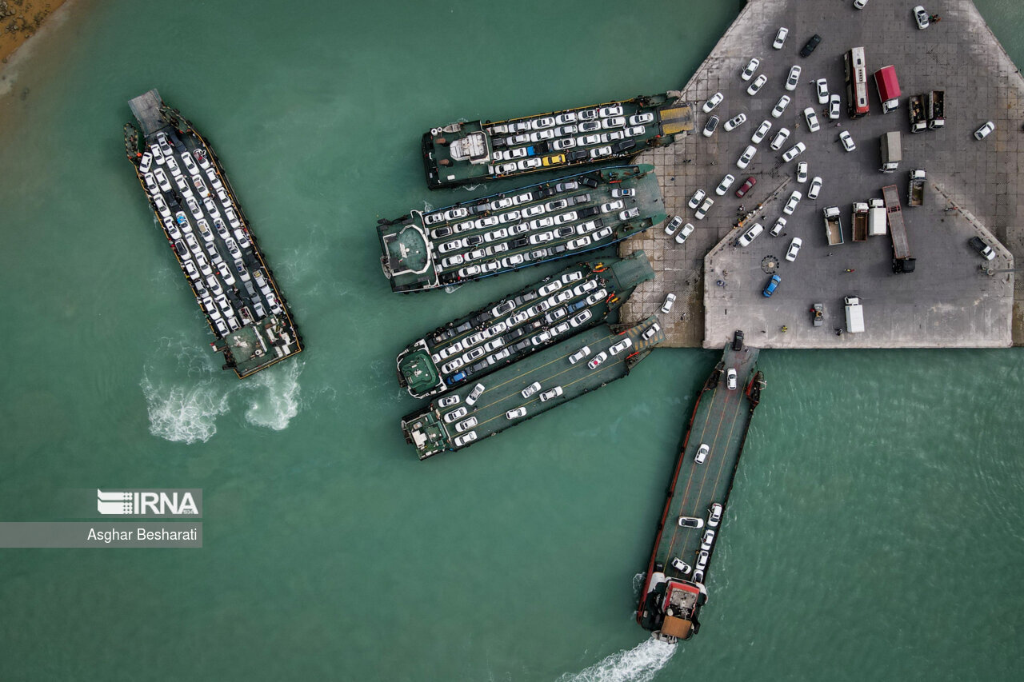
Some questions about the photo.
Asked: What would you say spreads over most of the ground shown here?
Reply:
water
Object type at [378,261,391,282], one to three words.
boat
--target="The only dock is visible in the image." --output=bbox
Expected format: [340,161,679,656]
[618,0,1024,348]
